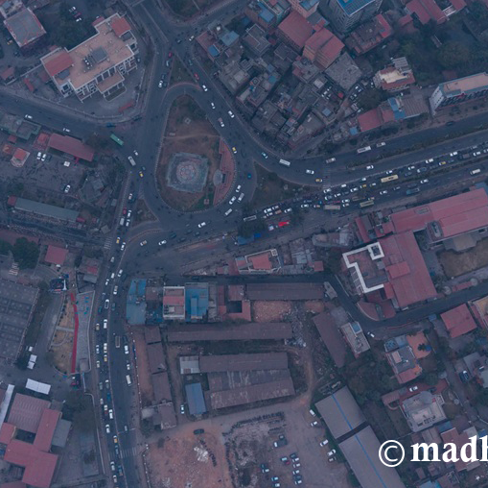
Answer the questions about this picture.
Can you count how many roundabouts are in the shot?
one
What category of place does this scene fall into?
residential area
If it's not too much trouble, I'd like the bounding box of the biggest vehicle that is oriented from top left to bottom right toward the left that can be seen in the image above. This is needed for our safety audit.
[108,132,125,147]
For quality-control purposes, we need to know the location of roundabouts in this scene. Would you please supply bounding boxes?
[155,94,236,213]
